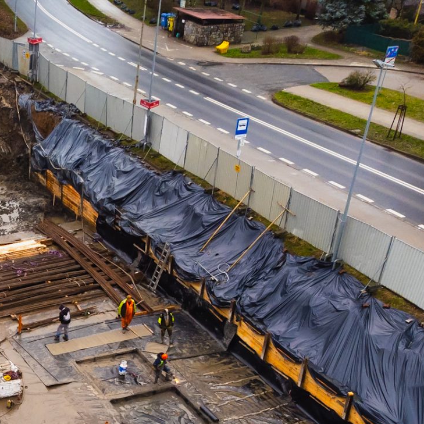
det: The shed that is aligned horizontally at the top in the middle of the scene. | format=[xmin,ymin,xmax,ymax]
[159,0,255,46]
